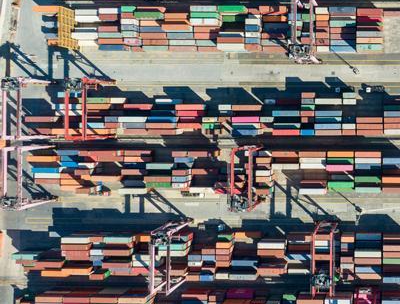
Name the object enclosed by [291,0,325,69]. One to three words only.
container crane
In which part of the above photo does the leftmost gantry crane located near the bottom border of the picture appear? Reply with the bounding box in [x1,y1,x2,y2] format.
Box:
[148,217,198,296]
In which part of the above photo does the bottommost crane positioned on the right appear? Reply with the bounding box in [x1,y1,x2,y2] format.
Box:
[352,270,381,304]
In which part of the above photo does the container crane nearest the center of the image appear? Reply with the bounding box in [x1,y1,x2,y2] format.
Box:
[229,141,270,213]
